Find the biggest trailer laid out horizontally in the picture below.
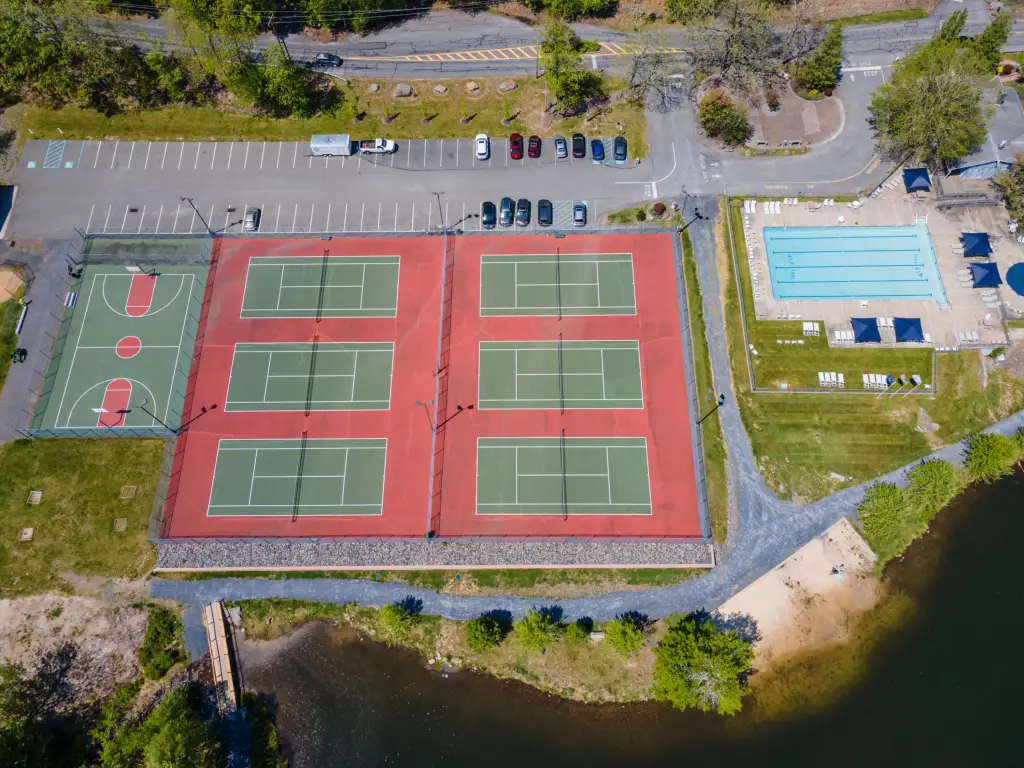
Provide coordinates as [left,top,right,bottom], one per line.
[309,134,357,155]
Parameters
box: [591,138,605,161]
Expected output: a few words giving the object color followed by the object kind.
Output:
blue car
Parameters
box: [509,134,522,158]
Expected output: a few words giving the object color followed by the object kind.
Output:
red vehicle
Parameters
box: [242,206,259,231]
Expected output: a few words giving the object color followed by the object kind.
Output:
gray car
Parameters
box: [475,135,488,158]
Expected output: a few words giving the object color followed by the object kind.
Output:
white vehicle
